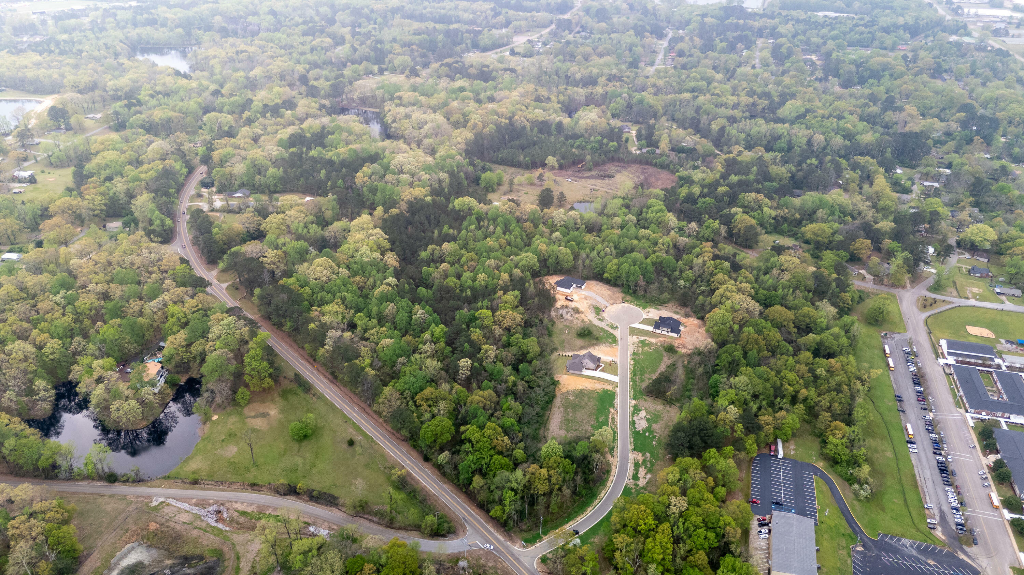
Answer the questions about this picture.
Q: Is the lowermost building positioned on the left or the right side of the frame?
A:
right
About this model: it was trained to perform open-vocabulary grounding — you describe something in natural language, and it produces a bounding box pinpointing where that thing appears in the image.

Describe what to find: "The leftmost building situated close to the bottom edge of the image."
[769,514,831,575]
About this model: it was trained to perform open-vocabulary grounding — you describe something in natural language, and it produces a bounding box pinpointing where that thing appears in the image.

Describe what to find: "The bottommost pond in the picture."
[20,376,203,480]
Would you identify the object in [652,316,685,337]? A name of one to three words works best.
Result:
house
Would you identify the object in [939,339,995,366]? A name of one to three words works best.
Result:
building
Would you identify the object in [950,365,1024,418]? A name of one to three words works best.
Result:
building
